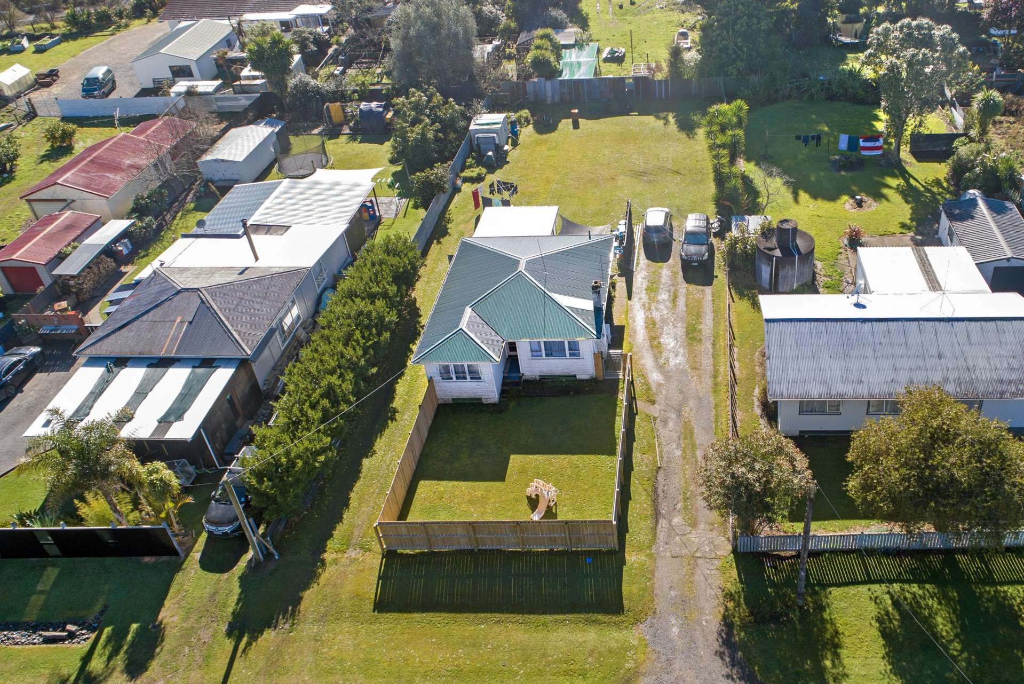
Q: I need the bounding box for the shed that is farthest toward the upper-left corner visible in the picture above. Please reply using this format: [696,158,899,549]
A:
[0,61,46,106]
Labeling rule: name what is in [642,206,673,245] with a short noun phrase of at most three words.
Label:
car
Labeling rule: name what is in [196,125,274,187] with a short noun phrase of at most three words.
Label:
shed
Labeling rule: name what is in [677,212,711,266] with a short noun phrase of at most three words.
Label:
car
